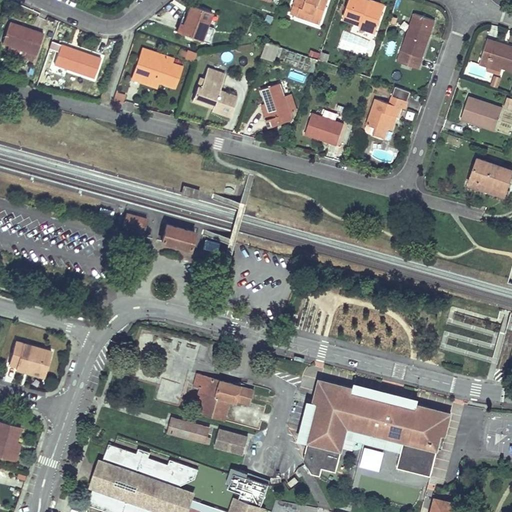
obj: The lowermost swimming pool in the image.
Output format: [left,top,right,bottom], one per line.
[372,148,394,162]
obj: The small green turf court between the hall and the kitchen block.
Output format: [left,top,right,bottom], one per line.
[194,465,230,508]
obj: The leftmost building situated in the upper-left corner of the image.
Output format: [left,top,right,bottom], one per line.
[3,22,44,63]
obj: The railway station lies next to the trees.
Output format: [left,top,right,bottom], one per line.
[164,225,197,262]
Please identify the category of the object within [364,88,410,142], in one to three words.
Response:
house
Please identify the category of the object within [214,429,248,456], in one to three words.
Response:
shed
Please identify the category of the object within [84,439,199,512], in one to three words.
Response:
building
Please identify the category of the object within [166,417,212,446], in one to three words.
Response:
shed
